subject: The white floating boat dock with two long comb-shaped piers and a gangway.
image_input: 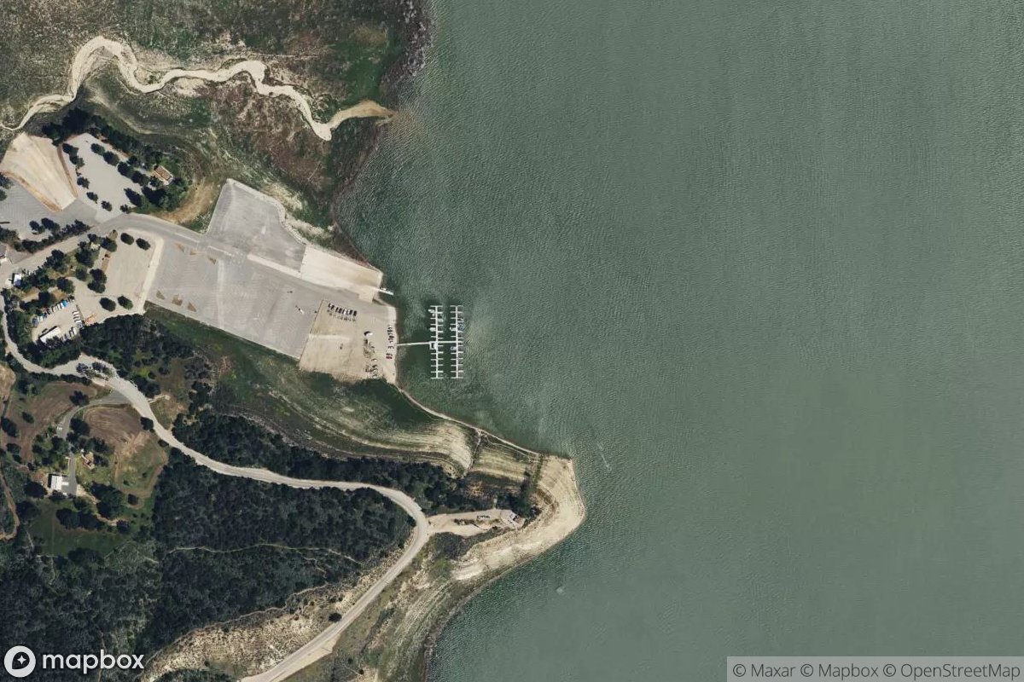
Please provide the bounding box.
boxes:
[395,305,463,379]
